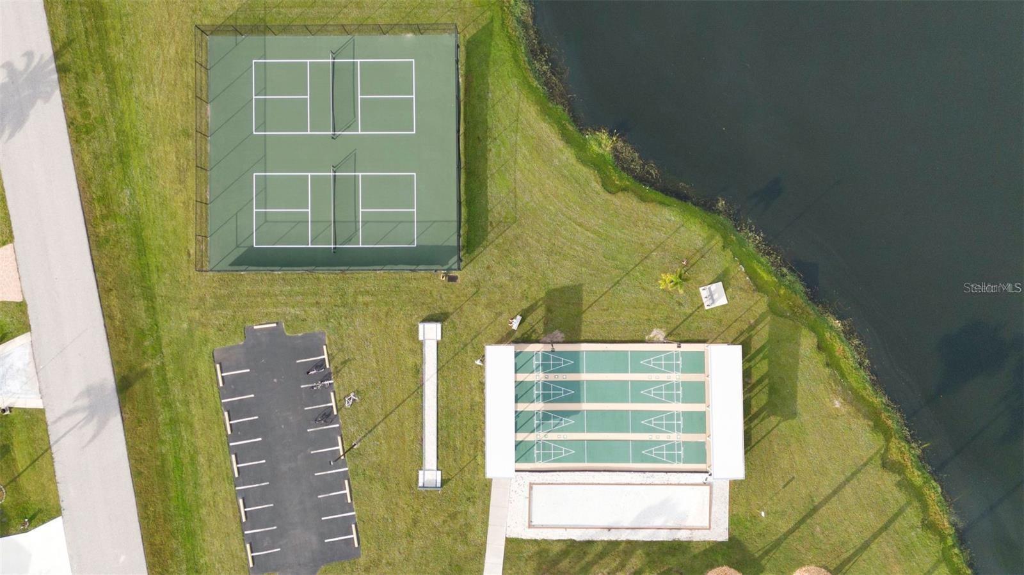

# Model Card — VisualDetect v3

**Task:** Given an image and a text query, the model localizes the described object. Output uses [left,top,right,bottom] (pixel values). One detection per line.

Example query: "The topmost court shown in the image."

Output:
[209,34,459,153]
